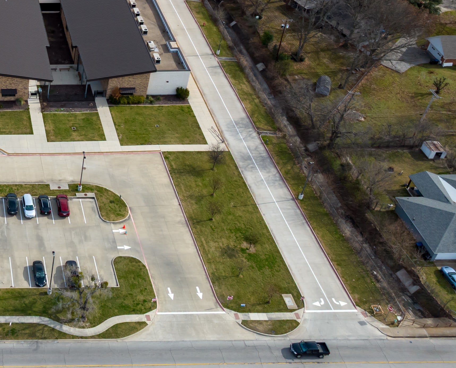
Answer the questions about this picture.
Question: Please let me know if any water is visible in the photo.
No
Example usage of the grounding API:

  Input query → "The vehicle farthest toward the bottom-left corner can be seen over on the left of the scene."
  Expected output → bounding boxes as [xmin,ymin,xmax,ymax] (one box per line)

[32,262,48,288]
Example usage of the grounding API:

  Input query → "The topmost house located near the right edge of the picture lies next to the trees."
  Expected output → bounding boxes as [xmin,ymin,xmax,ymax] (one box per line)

[422,34,456,68]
